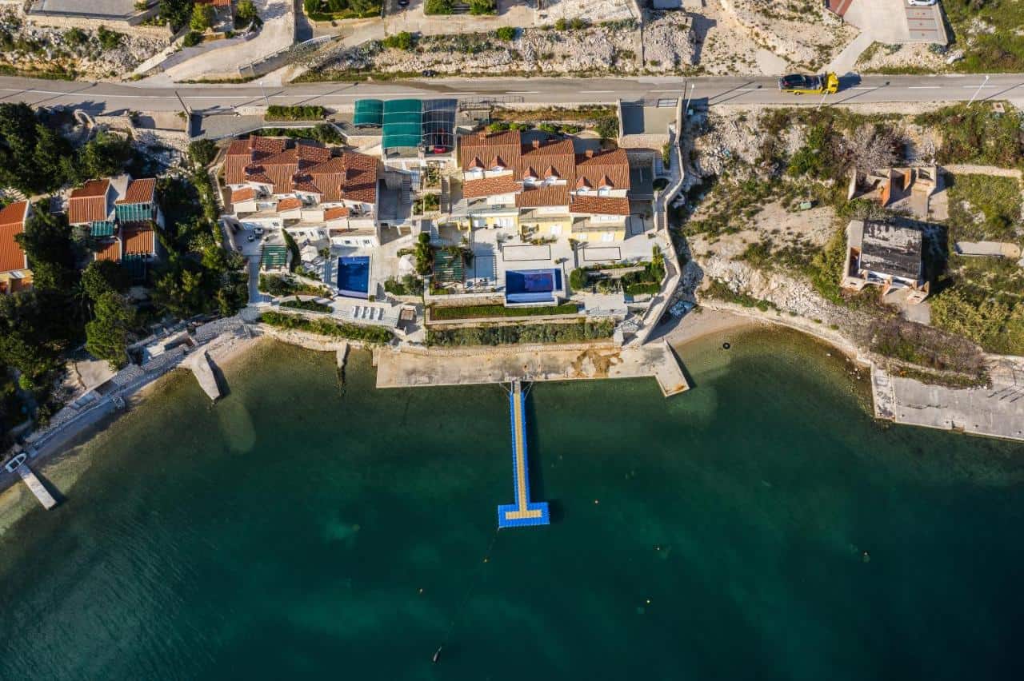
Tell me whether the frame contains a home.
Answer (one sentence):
Yes, you can see a home in this photo.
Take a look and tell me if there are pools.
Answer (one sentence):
Yes, the image includes a pool.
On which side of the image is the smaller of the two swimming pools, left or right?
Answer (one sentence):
It is on the left.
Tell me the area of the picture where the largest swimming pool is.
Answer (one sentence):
You can find the largest swimming pool in the center area of the picture.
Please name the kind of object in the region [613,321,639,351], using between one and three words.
building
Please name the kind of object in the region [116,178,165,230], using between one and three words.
house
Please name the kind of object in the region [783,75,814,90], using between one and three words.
car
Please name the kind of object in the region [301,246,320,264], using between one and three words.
umbrella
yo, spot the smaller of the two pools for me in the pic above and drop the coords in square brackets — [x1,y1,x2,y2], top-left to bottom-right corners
[335,253,372,300]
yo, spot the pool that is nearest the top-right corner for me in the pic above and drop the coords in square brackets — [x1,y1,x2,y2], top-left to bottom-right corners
[503,266,565,311]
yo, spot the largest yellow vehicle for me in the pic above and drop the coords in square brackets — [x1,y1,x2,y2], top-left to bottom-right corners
[780,75,838,95]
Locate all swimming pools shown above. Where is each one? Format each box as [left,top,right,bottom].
[335,253,372,300]
[503,266,565,311]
